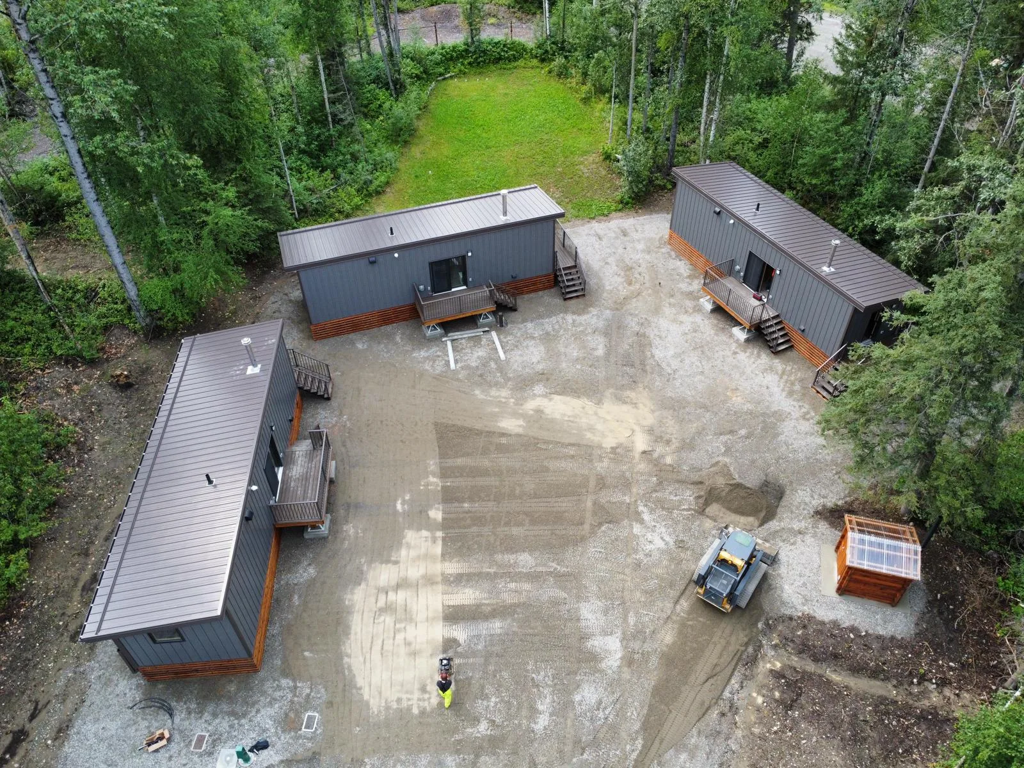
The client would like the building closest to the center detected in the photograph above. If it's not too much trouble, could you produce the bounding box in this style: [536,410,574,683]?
[277,185,566,339]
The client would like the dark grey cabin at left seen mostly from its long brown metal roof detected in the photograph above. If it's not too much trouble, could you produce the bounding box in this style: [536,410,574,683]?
[76,320,302,683]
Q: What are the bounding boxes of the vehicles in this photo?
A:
[694,524,779,613]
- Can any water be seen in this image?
No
